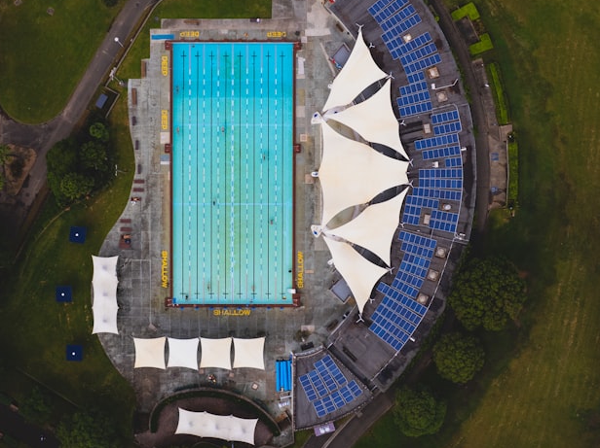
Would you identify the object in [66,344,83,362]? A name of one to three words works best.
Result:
umbrella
